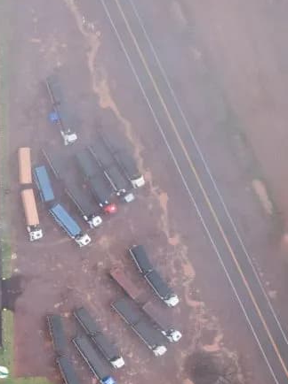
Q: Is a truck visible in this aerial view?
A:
Yes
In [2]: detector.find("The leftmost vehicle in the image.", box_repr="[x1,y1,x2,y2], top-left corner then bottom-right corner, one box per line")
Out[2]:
[16,147,42,241]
